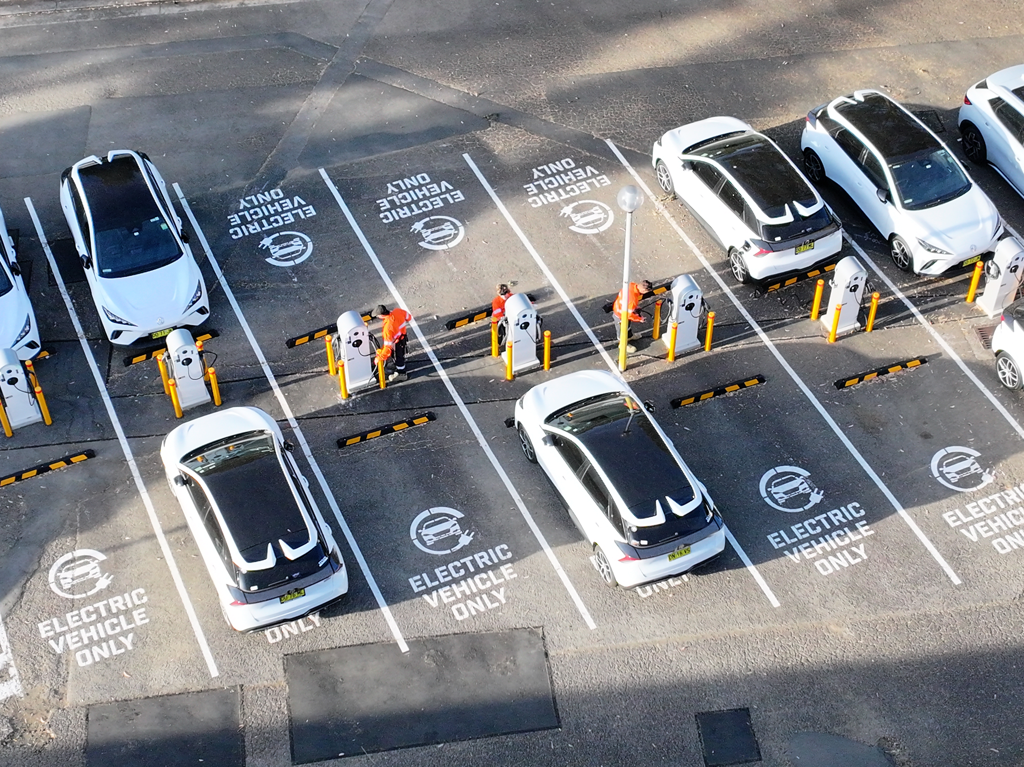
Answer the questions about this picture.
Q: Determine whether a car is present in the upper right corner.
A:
Yes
